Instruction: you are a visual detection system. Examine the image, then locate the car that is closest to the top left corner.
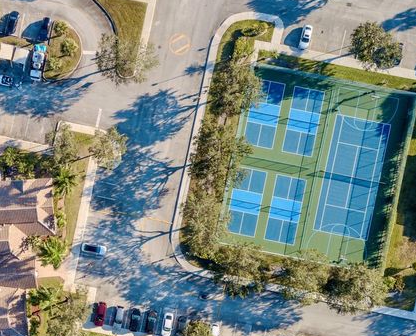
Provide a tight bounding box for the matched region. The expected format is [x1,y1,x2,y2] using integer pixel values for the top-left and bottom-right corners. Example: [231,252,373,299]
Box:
[7,12,21,37]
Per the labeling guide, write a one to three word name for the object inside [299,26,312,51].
vehicle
